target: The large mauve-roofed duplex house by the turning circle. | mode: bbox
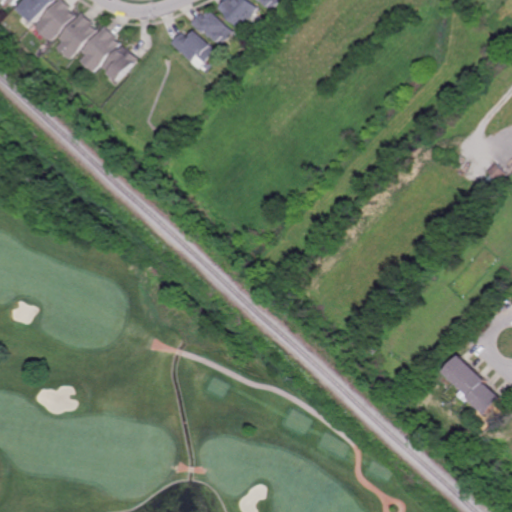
[438,353,500,415]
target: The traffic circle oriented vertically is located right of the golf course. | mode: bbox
[480,304,512,380]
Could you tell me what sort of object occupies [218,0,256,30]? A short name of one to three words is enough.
house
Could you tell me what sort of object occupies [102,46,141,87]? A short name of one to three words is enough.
house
